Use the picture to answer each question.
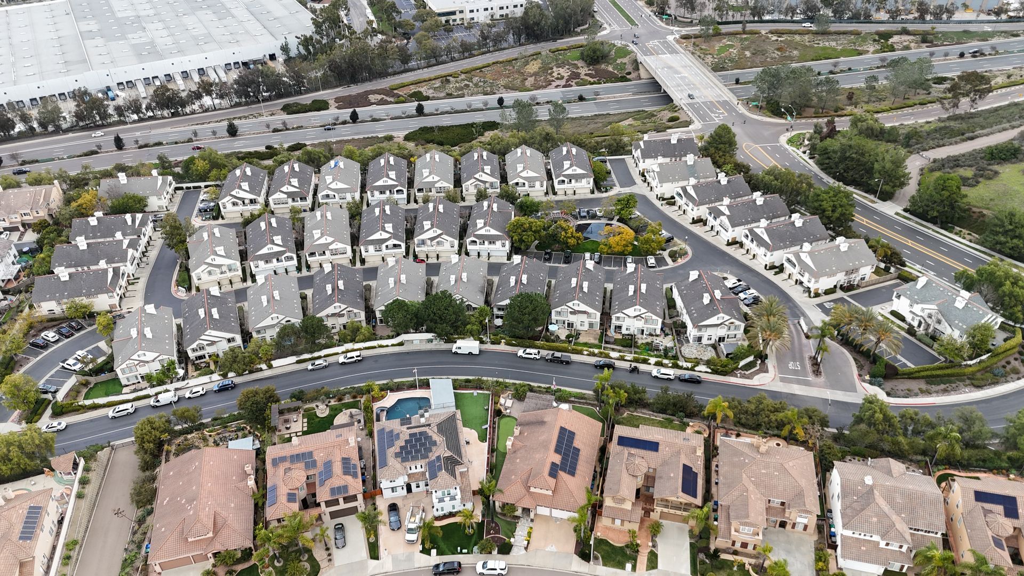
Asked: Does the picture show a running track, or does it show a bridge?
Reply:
bridge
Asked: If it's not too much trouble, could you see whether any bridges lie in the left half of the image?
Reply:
No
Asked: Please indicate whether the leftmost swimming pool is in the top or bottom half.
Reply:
bottom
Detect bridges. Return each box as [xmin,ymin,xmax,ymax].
[631,39,744,122]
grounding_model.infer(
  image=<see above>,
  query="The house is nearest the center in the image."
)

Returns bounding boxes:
[492,252,545,326]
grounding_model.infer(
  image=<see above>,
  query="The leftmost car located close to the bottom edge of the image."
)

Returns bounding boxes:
[332,522,346,549]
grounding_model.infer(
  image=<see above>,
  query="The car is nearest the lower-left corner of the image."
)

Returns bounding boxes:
[39,419,67,434]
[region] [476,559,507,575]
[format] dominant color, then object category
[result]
white car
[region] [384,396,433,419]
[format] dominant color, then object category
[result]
blue swimming pool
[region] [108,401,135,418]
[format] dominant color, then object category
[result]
white car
